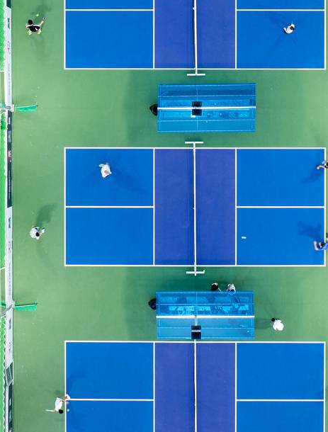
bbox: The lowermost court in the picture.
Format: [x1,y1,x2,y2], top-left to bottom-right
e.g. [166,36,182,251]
[65,342,326,432]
